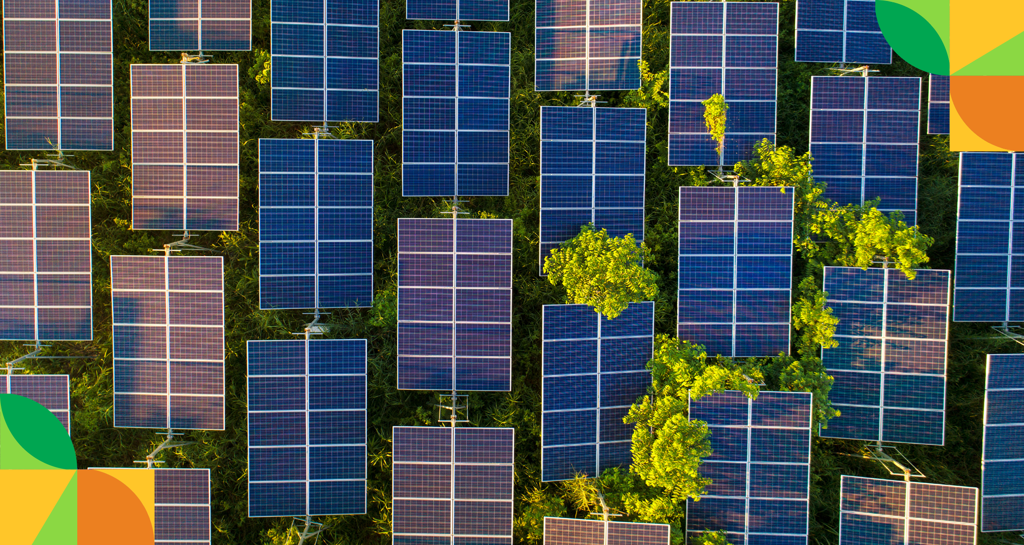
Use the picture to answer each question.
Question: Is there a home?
No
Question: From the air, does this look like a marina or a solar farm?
solar farm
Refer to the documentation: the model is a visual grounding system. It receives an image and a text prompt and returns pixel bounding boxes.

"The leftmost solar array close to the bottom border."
[0,364,73,545]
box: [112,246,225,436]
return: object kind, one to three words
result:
solar array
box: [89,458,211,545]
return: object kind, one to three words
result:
solar array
